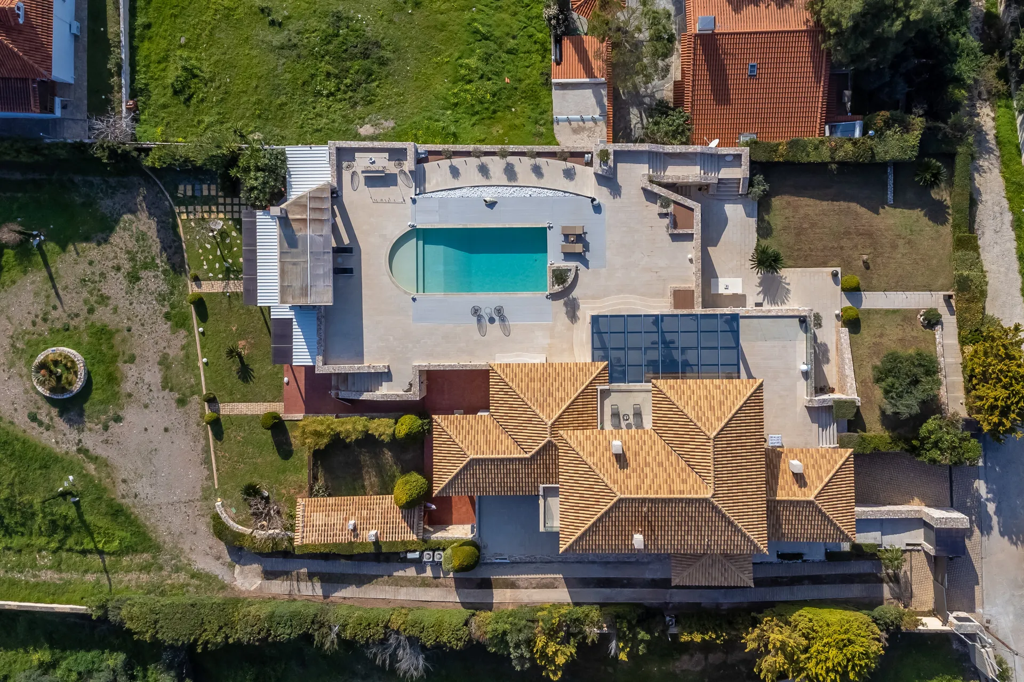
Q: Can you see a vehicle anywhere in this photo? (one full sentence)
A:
No, the photo shows no vehicle.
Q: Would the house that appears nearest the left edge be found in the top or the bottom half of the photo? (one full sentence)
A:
The house that appears nearest the left edge is in the top half of the image.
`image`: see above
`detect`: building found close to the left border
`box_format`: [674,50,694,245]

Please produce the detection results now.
[0,0,81,124]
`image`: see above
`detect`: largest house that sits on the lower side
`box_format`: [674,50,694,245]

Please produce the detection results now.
[431,361,858,589]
